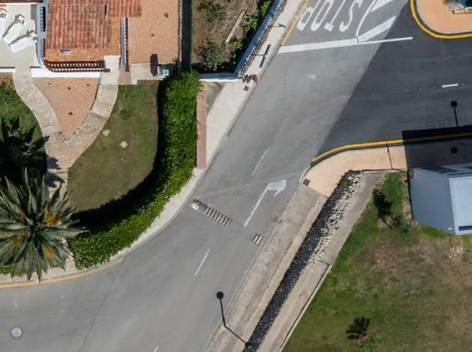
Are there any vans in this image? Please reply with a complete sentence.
No, the photo shows no van.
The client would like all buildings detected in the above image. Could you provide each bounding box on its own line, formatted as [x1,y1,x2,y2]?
[0,0,142,84]
[413,162,472,235]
